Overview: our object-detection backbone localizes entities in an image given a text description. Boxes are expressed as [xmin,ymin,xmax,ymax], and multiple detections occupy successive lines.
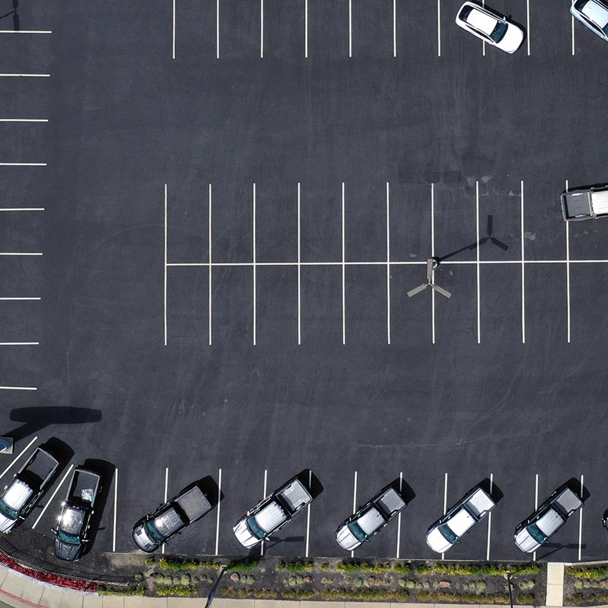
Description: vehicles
[136,482,215,551]
[569,0,608,45]
[455,1,524,54]
[562,187,608,222]
[49,464,104,560]
[235,475,315,546]
[512,483,587,552]
[425,484,499,553]
[0,444,63,532]
[337,483,409,550]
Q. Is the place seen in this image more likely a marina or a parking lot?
parking lot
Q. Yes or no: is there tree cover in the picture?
No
